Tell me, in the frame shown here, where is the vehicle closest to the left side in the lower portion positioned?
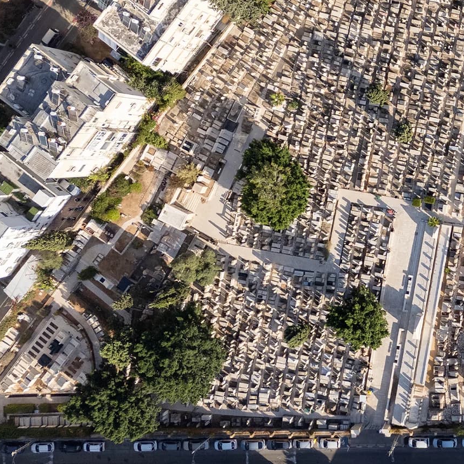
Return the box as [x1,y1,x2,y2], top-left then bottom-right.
[0,442,26,455]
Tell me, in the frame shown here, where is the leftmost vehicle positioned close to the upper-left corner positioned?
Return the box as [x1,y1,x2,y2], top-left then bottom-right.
[36,26,61,50]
